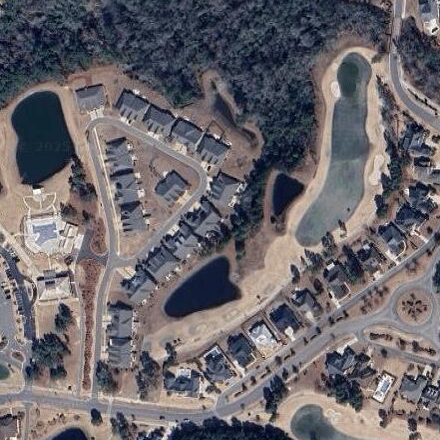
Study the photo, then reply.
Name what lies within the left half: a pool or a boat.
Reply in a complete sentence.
There is a pool within the left half.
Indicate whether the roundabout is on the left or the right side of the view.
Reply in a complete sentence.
You can find the roundabout on the right side of the picture.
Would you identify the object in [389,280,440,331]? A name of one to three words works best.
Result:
roundabout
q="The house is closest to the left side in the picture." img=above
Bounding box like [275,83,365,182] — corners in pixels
[0,413,19,440]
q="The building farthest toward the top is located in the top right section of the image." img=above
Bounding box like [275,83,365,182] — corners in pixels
[416,0,440,17]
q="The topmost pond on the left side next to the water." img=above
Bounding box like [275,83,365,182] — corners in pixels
[9,88,78,188]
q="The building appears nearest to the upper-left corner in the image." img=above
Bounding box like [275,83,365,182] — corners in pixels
[76,85,106,112]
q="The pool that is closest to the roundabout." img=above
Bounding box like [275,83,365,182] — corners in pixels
[376,374,393,400]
